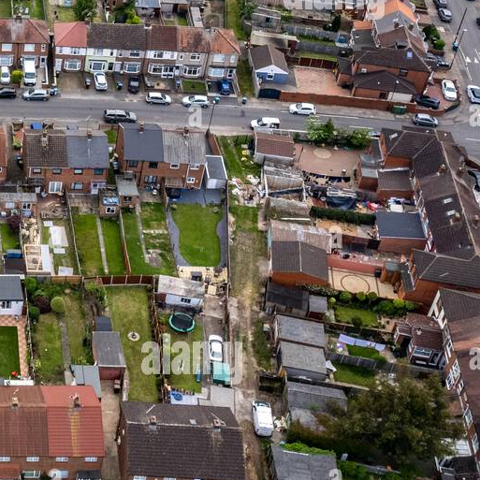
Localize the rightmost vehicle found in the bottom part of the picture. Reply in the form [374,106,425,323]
[251,399,277,437]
